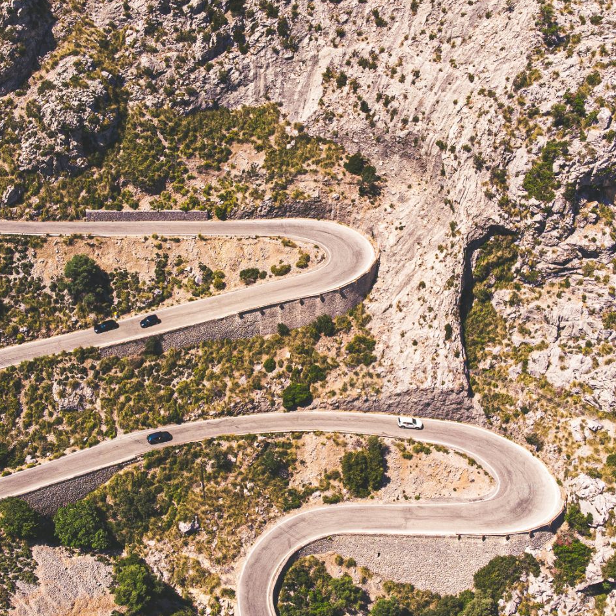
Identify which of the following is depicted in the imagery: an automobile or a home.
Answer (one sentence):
It is an automobile that can be seen here.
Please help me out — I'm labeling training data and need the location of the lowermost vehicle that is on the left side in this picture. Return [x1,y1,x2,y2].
[147,432,174,448]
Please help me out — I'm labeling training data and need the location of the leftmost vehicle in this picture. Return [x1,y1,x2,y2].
[93,320,119,336]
